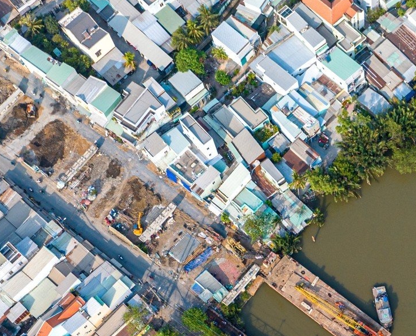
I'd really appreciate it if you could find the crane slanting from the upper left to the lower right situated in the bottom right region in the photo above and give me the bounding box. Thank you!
[295,285,379,336]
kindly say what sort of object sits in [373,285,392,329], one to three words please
boat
